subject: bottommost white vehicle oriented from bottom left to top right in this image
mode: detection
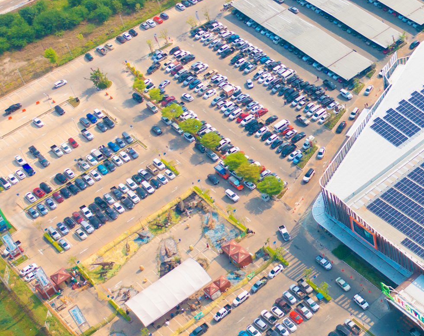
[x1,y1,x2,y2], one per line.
[212,304,234,322]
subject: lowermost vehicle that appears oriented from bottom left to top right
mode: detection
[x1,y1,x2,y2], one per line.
[188,322,210,336]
